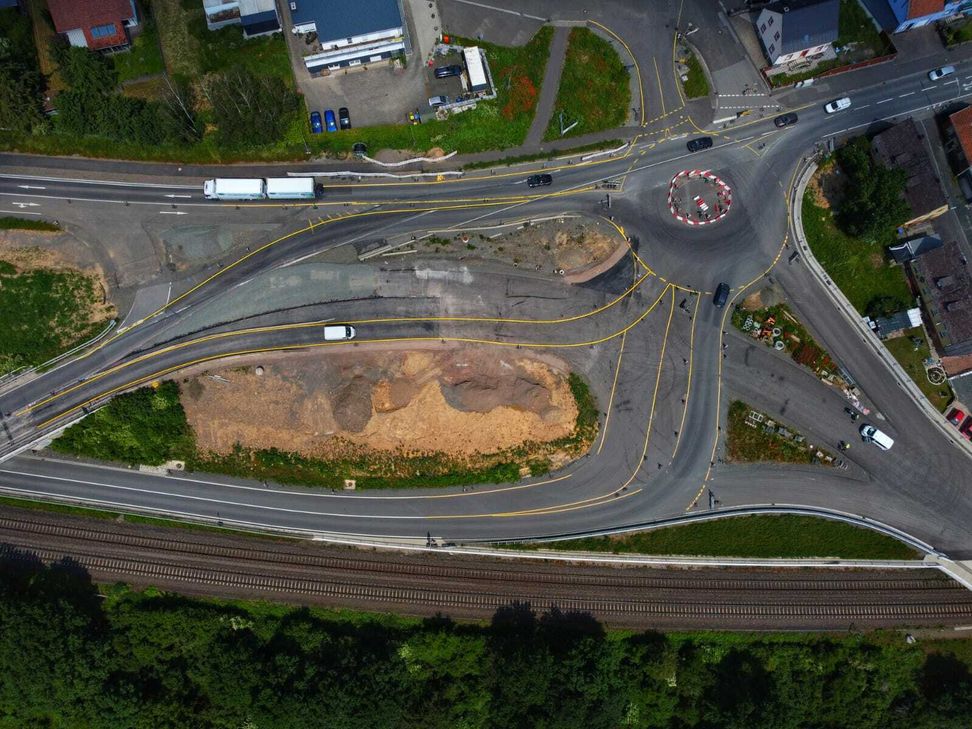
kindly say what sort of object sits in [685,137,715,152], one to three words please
car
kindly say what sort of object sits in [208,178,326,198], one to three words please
vehicle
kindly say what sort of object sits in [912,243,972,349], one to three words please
house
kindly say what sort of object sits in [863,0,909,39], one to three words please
building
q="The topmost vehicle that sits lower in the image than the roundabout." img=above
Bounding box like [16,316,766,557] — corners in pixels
[714,281,729,308]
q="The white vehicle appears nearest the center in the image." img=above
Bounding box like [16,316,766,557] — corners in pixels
[324,326,358,341]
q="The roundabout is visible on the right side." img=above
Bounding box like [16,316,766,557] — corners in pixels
[626,147,782,268]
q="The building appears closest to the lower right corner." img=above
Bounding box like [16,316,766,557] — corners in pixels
[940,373,972,419]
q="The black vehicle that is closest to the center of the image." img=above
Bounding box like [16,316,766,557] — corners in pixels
[526,174,552,187]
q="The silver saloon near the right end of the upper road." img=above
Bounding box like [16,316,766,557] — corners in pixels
[926,65,957,81]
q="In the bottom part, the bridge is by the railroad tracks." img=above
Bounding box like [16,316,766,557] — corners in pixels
[925,547,972,591]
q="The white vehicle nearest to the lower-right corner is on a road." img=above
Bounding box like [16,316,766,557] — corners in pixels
[857,426,894,451]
